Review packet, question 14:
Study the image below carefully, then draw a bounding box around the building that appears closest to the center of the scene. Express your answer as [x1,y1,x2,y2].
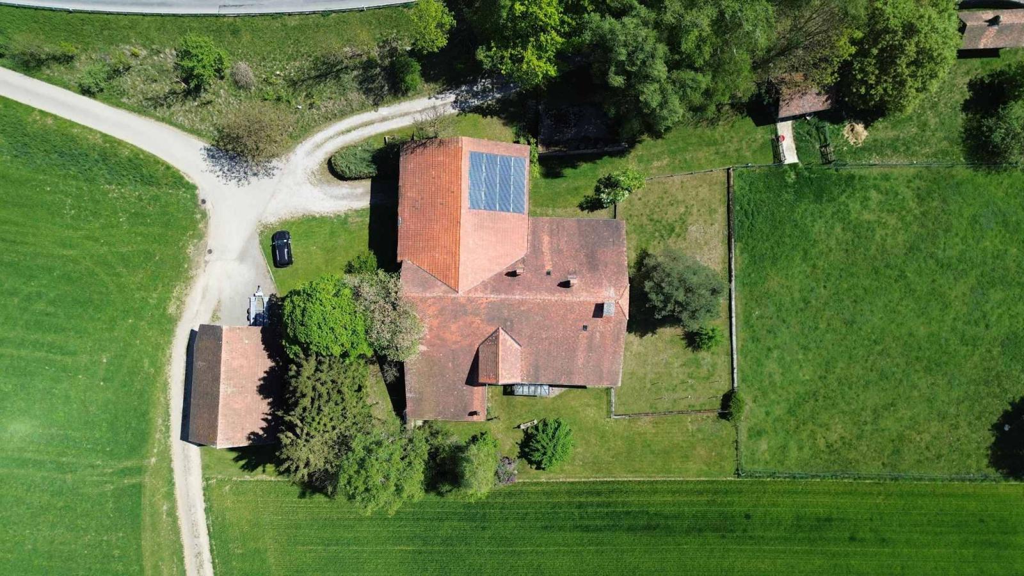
[396,135,632,421]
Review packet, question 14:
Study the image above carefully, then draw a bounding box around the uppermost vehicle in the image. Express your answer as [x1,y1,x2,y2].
[271,230,293,268]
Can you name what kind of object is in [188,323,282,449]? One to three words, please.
shed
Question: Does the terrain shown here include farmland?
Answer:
Yes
